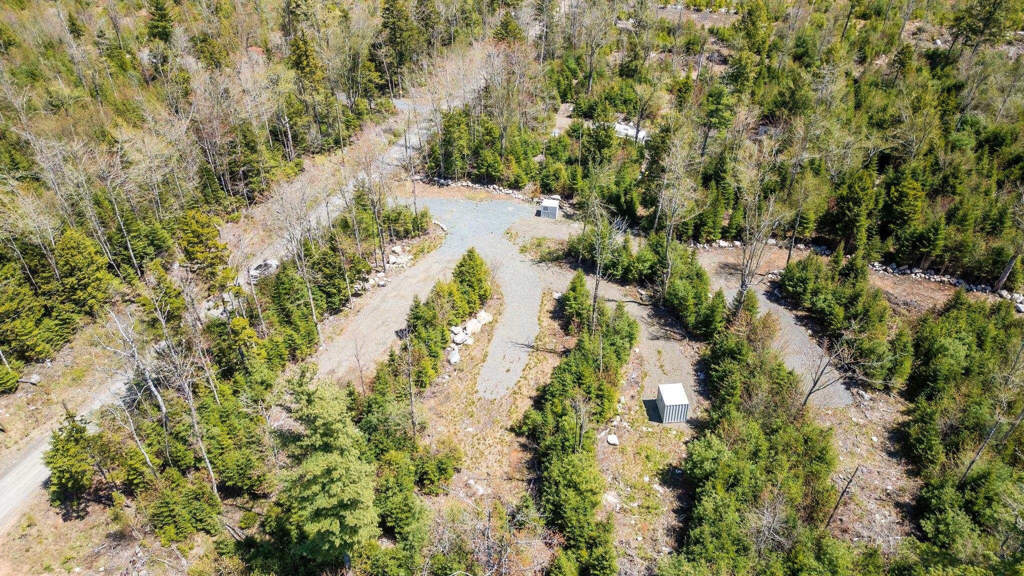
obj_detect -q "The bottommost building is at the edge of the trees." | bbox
[541,199,558,219]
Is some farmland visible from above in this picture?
No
